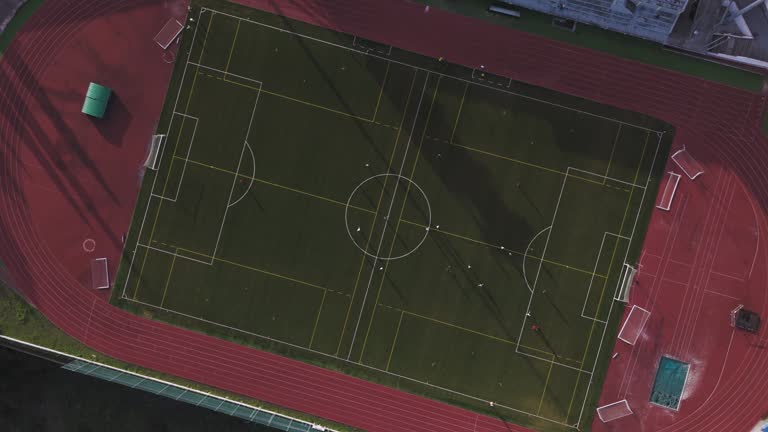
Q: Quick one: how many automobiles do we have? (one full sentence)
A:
No automobiles are visible.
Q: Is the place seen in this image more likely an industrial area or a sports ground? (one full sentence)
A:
What you see here is a sports ground.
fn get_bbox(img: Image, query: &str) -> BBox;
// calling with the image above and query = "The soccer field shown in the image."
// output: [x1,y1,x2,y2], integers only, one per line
[105,0,681,432]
